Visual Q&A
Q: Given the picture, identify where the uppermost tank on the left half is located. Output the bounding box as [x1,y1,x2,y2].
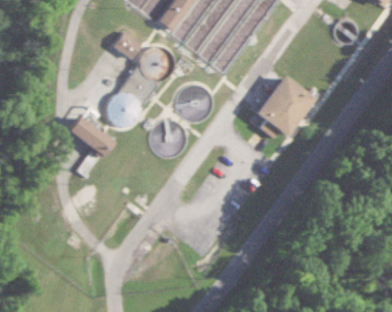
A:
[138,46,172,82]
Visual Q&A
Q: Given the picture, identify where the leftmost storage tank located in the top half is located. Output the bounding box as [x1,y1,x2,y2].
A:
[106,92,142,128]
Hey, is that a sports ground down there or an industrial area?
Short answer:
industrial area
